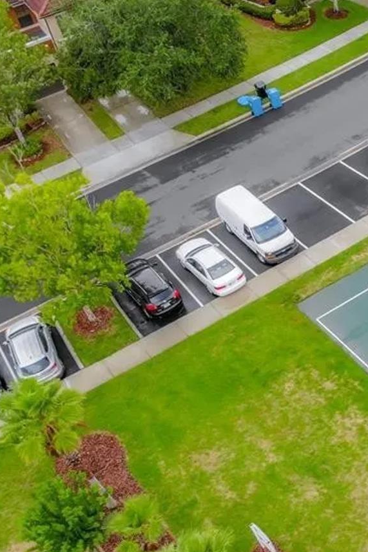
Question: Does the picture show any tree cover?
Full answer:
Yes, the picture does contain tree cover.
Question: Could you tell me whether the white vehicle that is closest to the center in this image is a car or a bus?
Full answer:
It turns out the white vehicle that is closest to the center is a car.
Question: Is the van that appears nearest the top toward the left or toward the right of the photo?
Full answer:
The van that appears nearest the top appears in the right half of the scene.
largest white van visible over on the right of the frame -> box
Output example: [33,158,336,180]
[214,187,299,268]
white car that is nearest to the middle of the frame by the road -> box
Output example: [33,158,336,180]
[176,240,245,300]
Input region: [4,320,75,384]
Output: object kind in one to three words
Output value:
car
